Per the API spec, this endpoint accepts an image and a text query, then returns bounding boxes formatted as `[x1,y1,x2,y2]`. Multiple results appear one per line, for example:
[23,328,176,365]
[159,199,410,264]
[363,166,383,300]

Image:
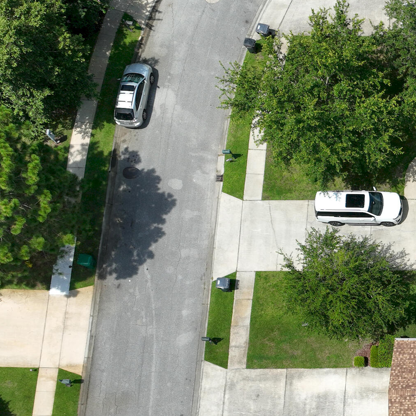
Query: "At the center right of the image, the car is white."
[313,185,404,229]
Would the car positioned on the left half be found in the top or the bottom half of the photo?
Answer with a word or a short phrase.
top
